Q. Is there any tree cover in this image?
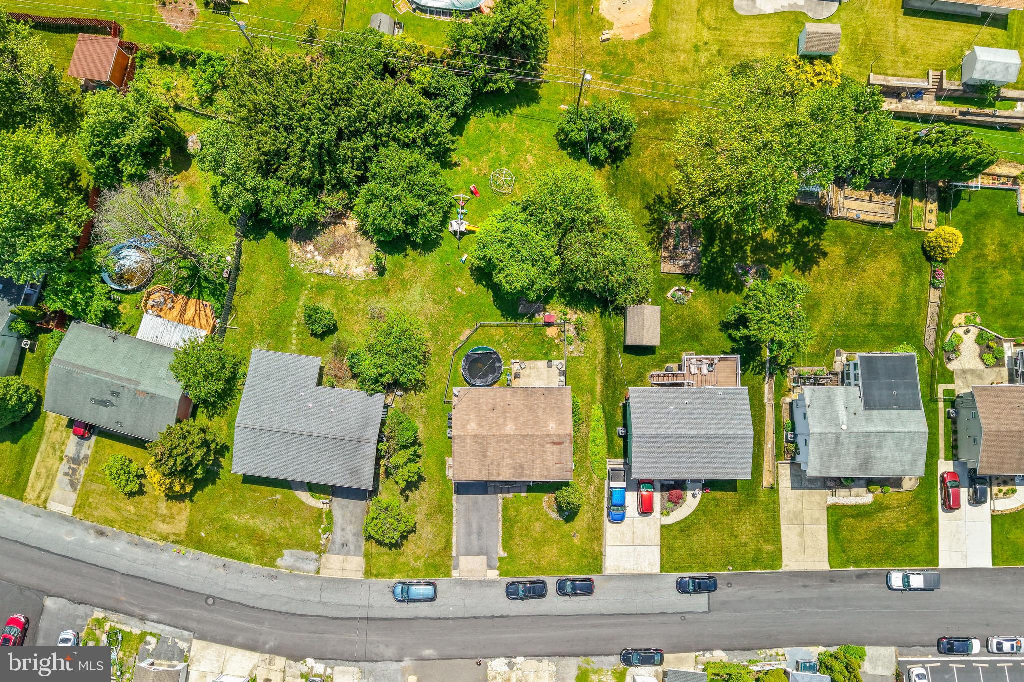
Yes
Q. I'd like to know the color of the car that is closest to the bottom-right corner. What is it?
white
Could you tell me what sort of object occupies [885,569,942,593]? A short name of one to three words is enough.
truck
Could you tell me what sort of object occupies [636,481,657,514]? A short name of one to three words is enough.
car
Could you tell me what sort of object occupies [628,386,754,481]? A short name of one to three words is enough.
house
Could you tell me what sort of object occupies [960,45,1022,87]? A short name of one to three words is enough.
shed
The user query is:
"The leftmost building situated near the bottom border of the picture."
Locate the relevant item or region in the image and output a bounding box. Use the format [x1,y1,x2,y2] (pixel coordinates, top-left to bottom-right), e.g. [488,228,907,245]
[132,648,199,682]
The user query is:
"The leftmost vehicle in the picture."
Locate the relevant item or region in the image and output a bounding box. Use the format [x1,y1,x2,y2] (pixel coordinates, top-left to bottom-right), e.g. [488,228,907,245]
[0,608,31,655]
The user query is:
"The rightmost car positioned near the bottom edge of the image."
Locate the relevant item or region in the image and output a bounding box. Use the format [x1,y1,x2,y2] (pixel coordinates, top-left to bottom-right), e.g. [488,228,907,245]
[985,634,1024,657]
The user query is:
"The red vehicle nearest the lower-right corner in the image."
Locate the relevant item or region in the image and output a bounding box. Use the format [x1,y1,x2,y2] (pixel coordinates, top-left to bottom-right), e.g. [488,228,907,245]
[938,469,964,511]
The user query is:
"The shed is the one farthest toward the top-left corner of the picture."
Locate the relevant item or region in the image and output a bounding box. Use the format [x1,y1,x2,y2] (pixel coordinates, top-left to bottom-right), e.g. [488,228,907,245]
[69,33,136,90]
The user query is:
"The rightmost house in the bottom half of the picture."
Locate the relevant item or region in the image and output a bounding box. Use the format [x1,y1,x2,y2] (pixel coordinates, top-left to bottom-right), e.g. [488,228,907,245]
[956,385,1024,476]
